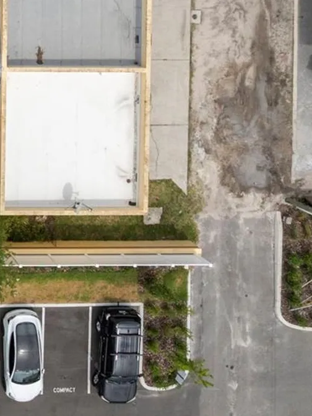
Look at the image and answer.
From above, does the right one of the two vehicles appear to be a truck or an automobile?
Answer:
automobile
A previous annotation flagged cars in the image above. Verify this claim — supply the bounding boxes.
[0,308,49,401]
[90,295,148,401]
